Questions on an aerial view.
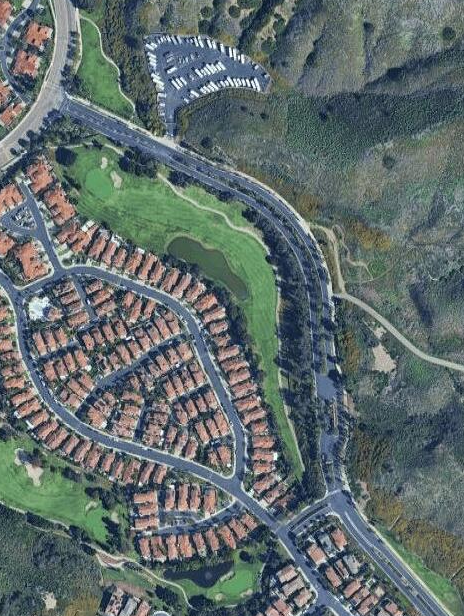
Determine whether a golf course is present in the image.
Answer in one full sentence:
Yes, the frame does contain a golf course.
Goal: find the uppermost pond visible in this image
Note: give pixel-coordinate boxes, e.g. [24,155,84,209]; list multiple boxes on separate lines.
[168,237,249,302]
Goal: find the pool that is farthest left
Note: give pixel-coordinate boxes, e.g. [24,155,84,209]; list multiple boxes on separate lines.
[28,297,50,320]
